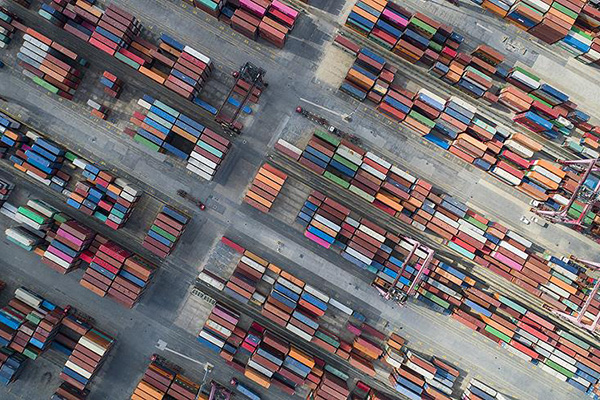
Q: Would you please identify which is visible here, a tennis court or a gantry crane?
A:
gantry crane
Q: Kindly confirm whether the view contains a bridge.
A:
No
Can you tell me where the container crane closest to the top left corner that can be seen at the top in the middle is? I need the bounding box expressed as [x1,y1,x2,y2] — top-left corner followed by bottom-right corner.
[213,59,272,136]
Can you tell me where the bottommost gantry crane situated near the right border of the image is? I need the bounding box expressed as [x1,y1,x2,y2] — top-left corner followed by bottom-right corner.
[537,253,600,334]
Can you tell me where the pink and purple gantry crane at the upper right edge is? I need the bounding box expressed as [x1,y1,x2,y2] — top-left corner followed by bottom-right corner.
[523,151,600,221]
